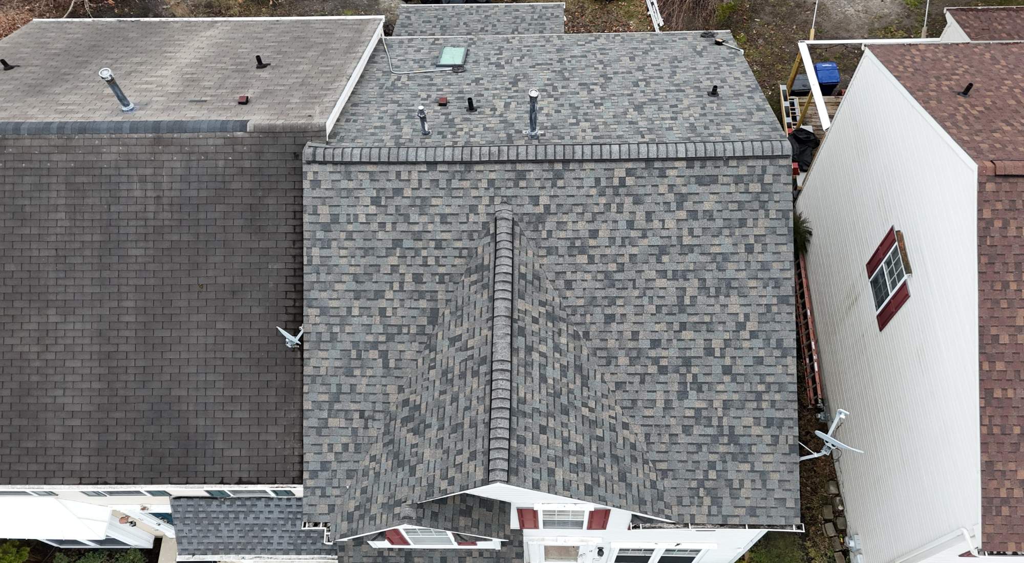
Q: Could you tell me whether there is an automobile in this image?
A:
No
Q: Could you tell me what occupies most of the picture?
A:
buildings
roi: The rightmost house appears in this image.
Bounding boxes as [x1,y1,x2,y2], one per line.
[799,6,1024,563]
